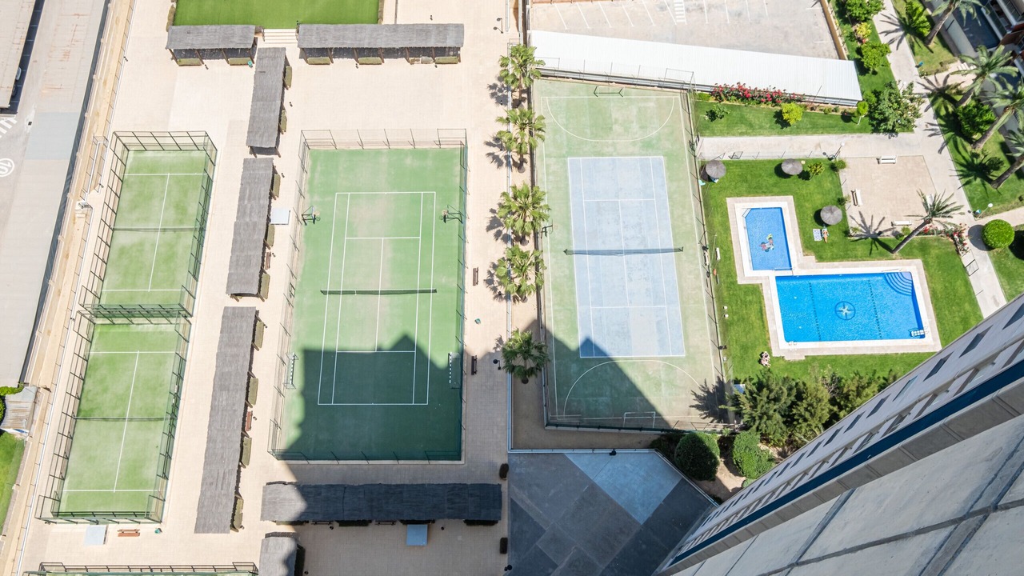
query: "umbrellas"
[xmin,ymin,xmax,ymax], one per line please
[817,206,841,227]
[702,160,725,180]
[779,158,802,178]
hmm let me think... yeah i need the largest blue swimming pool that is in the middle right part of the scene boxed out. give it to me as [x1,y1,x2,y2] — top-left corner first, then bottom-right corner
[777,266,933,347]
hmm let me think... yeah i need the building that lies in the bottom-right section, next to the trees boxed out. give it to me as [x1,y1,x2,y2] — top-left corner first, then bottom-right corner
[654,292,1024,576]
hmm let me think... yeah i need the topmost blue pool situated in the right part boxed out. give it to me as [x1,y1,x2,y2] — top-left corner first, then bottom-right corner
[746,207,793,269]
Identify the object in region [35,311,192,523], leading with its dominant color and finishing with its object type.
green sports court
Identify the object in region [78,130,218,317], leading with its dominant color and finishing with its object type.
green sports court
